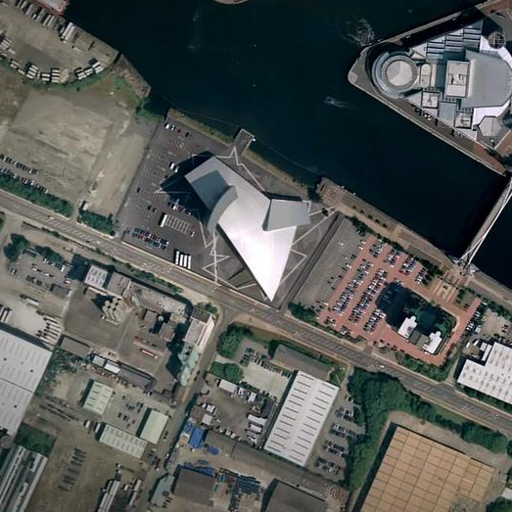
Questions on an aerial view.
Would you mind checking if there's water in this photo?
Yes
